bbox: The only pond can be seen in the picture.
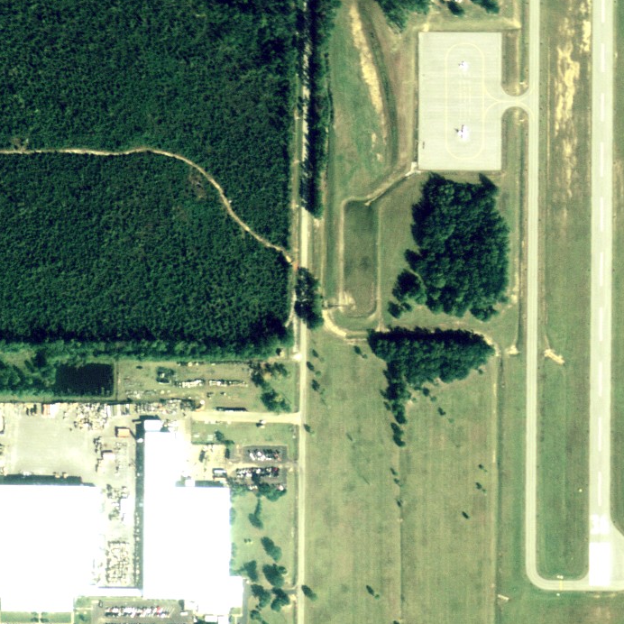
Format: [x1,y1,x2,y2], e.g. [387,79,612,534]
[55,364,114,395]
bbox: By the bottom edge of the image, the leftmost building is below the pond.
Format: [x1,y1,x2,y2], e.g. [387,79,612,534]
[0,482,96,613]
